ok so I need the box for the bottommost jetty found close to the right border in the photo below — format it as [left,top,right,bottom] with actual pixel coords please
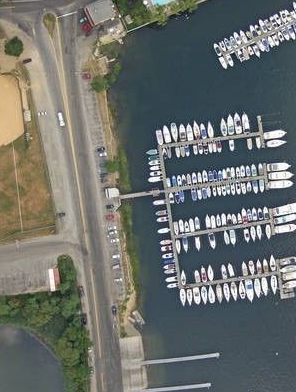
[181,259,296,299]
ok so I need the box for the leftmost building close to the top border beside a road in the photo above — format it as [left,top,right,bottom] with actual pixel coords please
[82,0,115,27]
